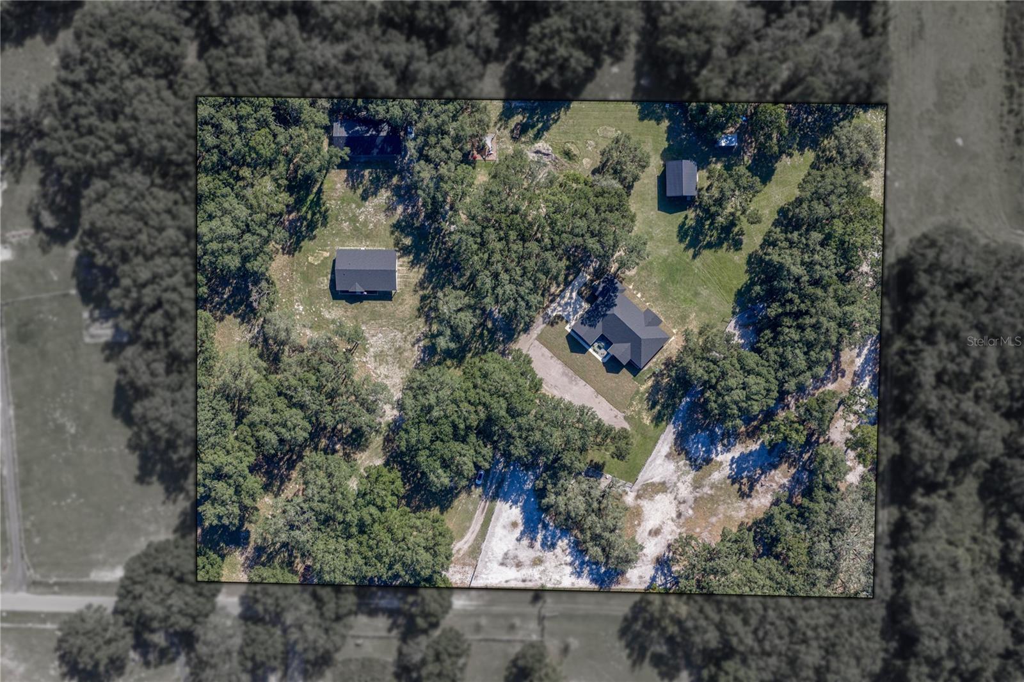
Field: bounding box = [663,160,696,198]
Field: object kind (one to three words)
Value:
shed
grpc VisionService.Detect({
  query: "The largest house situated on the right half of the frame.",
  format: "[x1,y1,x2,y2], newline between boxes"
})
[571,281,668,368]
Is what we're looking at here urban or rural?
rural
